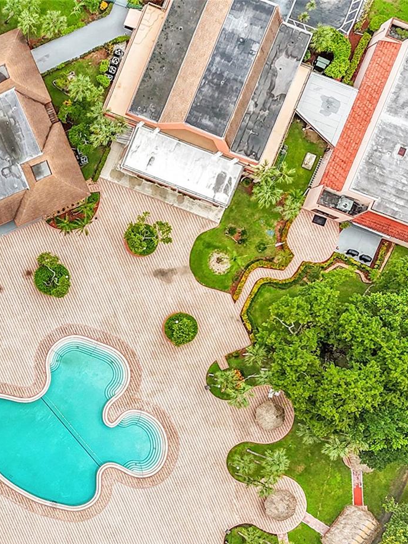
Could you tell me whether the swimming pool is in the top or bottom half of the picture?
bottom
